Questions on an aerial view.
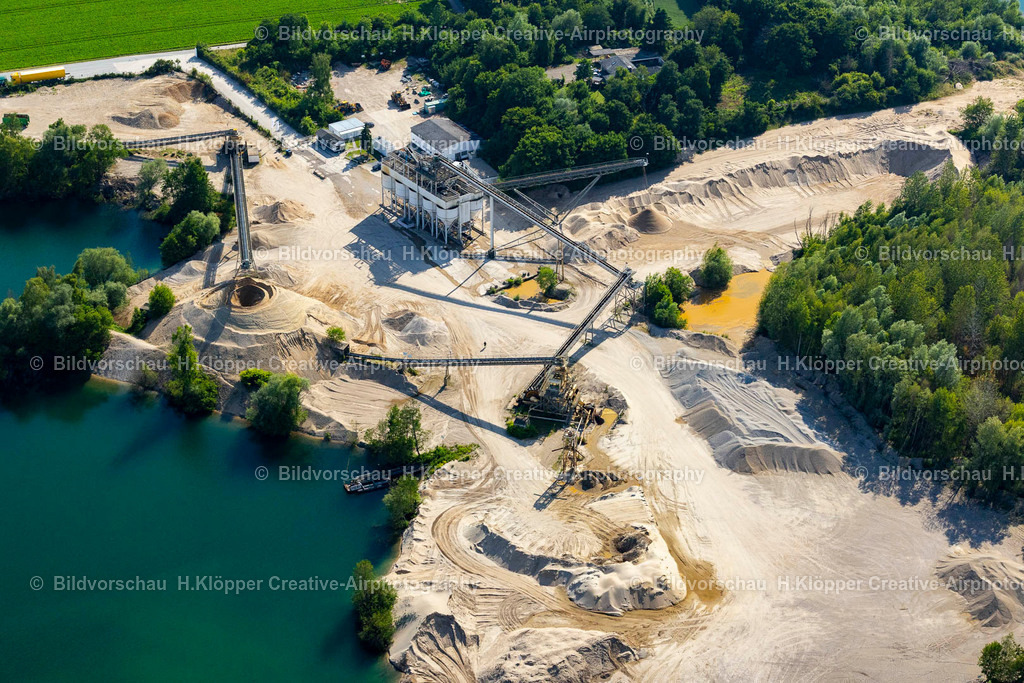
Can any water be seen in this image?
Yes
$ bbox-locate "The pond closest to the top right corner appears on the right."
[680,276,779,352]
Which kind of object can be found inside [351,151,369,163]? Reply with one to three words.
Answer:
vehicle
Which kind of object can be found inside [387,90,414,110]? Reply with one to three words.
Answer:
work vehicle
